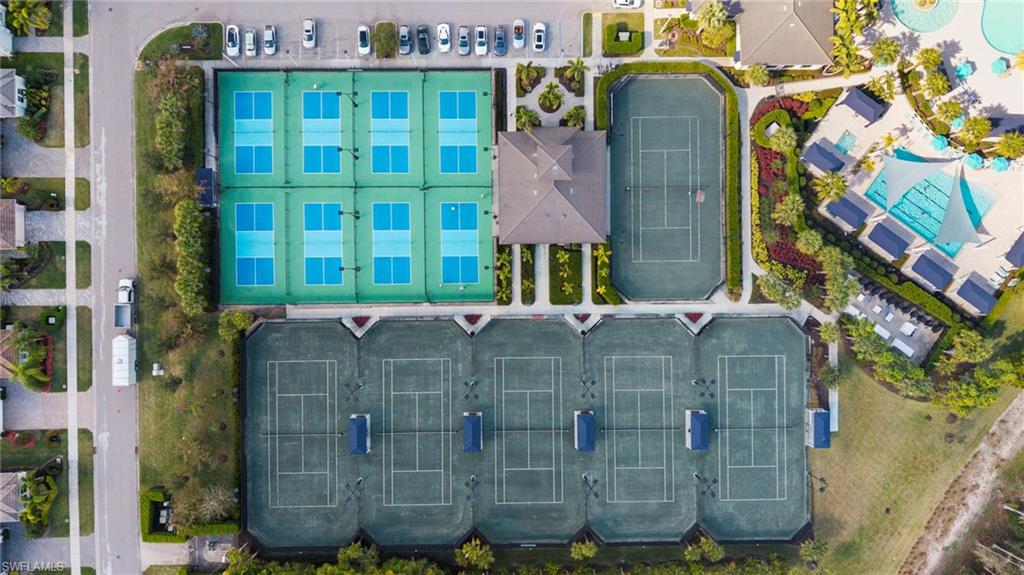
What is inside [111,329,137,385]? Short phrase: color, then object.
white trailer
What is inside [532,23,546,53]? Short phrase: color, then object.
white car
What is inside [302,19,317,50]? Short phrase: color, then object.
white car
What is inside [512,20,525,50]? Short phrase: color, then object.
white vehicle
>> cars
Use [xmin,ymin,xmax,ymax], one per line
[357,26,371,57]
[532,23,546,53]
[474,26,488,57]
[263,26,277,57]
[398,25,411,56]
[437,23,451,54]
[512,20,525,50]
[302,19,317,50]
[457,26,471,57]
[493,25,508,58]
[226,27,240,57]
[417,25,431,56]
[244,28,258,58]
